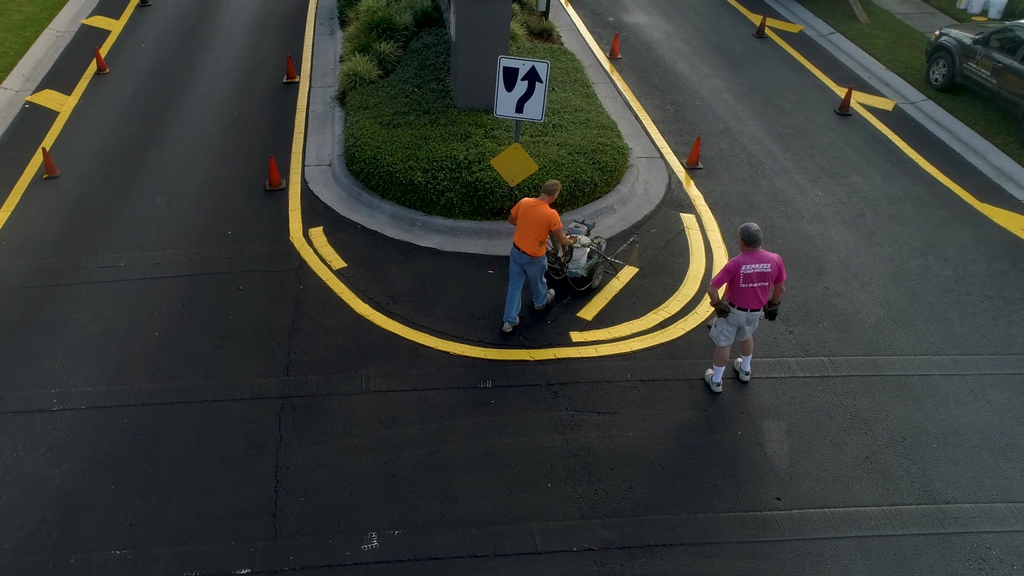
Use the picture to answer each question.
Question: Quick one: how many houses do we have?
zero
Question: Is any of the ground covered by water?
No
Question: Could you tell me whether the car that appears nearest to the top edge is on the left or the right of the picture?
right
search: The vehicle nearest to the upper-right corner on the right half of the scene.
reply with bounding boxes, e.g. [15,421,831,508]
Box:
[915,14,1024,121]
